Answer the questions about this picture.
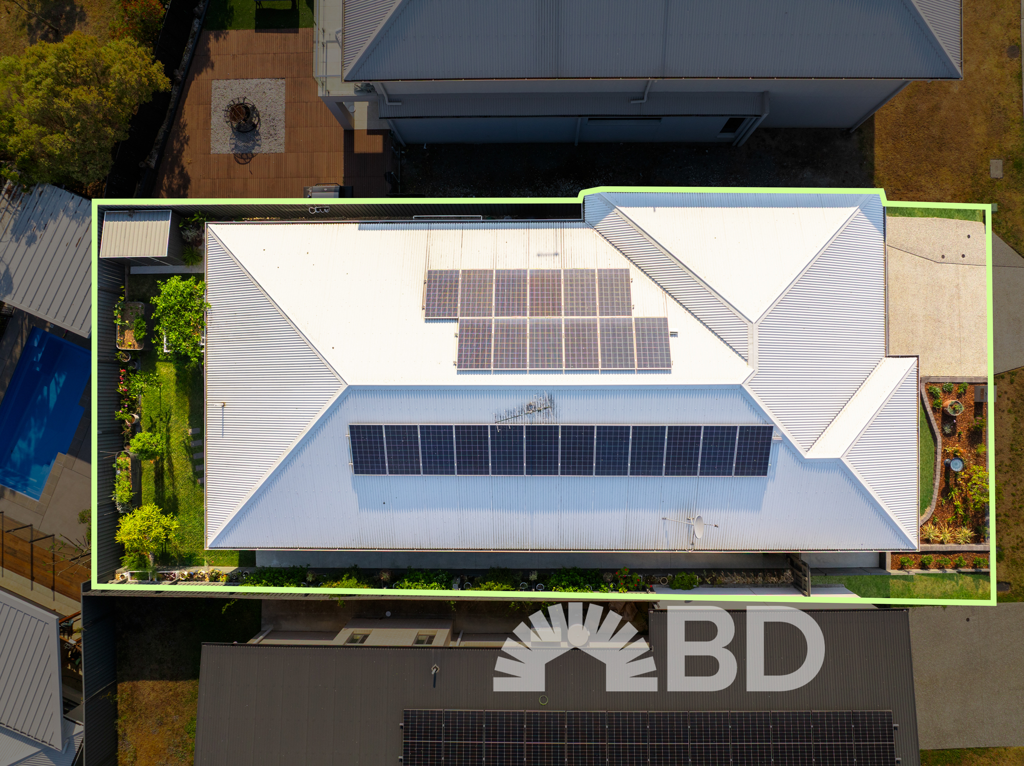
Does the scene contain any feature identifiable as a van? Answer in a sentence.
No, no van is visible in the scene.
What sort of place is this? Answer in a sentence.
This image shows a residential area.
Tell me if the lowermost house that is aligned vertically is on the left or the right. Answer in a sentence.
It is on the left.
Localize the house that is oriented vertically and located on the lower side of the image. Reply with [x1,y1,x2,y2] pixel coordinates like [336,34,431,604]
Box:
[0,589,88,766]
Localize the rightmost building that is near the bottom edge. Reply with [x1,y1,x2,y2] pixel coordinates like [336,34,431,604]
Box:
[194,588,918,766]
